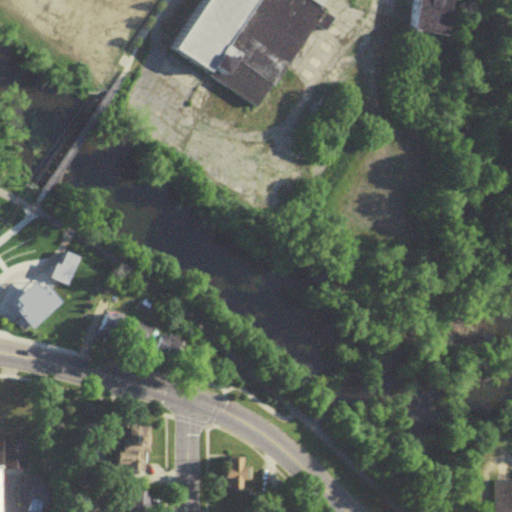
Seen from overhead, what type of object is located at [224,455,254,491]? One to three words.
house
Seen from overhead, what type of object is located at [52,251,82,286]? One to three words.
building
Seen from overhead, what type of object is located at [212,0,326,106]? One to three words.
building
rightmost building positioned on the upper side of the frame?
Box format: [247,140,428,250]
[412,0,456,37]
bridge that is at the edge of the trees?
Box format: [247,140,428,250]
[20,66,127,202]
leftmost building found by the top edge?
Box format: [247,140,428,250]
[172,0,262,73]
